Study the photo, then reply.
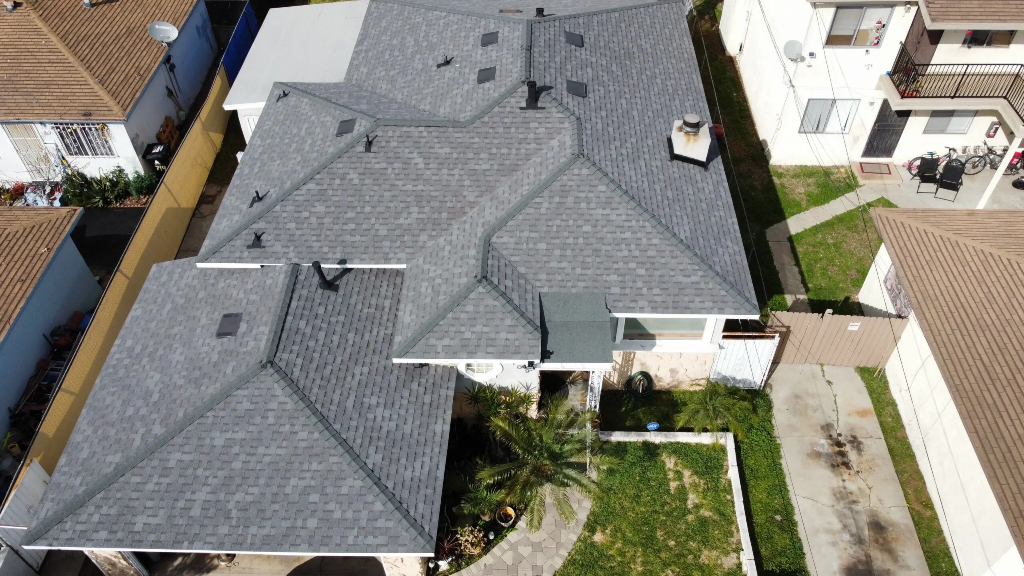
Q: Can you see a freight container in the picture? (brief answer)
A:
No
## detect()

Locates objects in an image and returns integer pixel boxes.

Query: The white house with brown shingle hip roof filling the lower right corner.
[859,205,1024,576]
